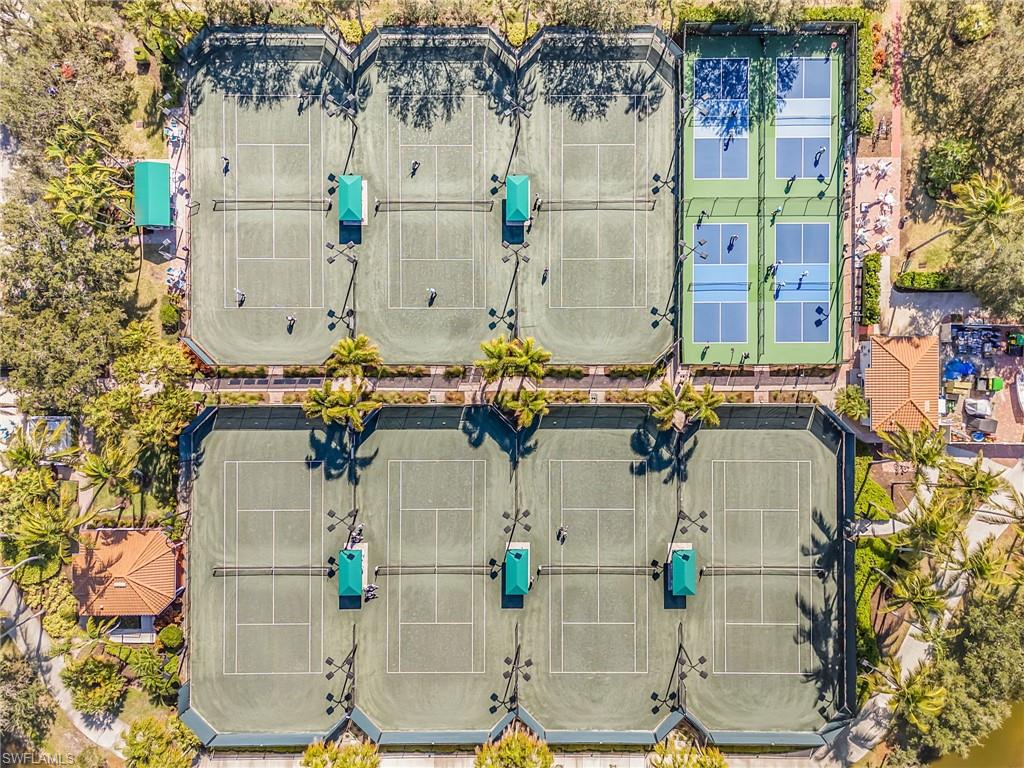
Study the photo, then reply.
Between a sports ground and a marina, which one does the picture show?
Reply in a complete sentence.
What you see here is a sports ground.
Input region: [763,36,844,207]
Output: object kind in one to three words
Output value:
sports court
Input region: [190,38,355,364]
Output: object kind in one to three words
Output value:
tennis court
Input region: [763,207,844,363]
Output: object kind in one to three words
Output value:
sports court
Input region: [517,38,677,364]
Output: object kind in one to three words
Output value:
tennis court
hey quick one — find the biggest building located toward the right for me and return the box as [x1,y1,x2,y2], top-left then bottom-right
[862,335,940,432]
